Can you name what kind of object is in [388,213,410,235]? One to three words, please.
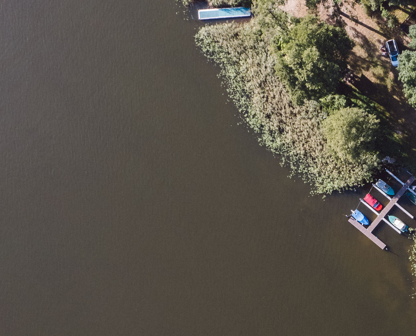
boat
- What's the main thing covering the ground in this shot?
water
